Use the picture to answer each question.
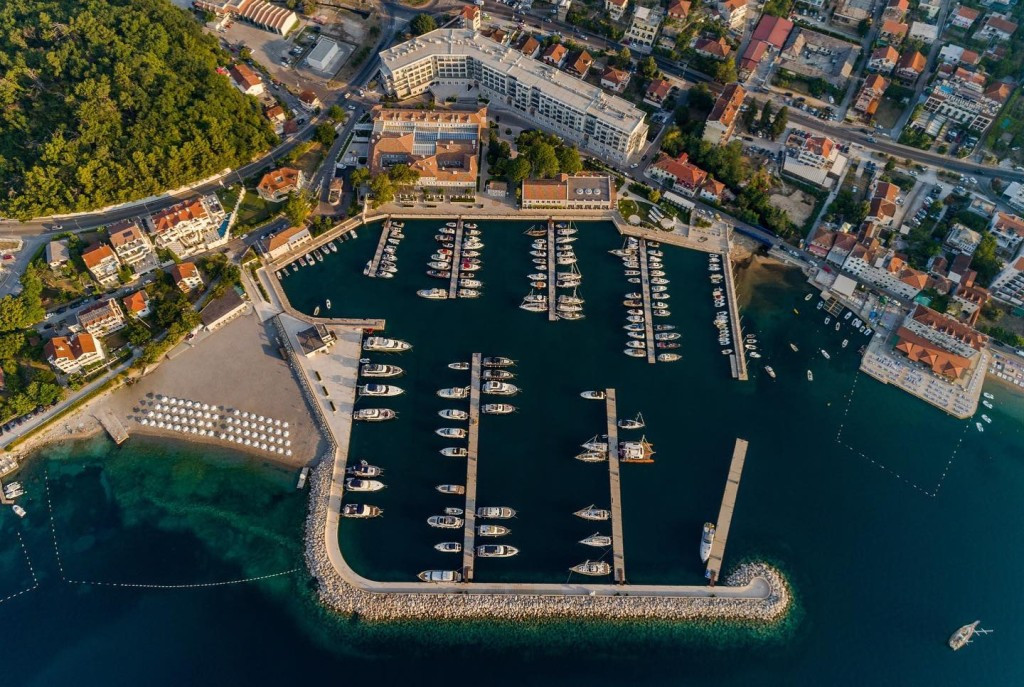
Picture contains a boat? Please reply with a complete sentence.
Yes, there's a boat here.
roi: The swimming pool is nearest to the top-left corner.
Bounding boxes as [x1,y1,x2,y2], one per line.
[216,212,230,239]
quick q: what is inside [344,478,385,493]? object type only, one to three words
boat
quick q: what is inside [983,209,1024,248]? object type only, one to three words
house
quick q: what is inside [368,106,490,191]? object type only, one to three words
building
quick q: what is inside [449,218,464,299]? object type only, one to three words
pier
